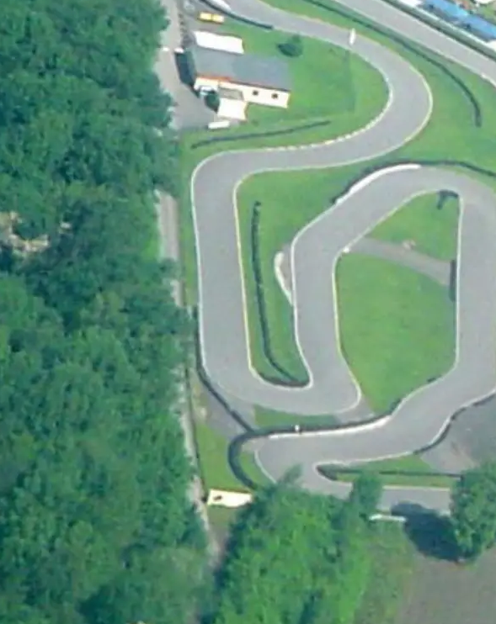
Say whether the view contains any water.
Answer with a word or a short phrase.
No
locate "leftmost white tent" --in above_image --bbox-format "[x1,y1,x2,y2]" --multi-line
[196,32,245,58]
